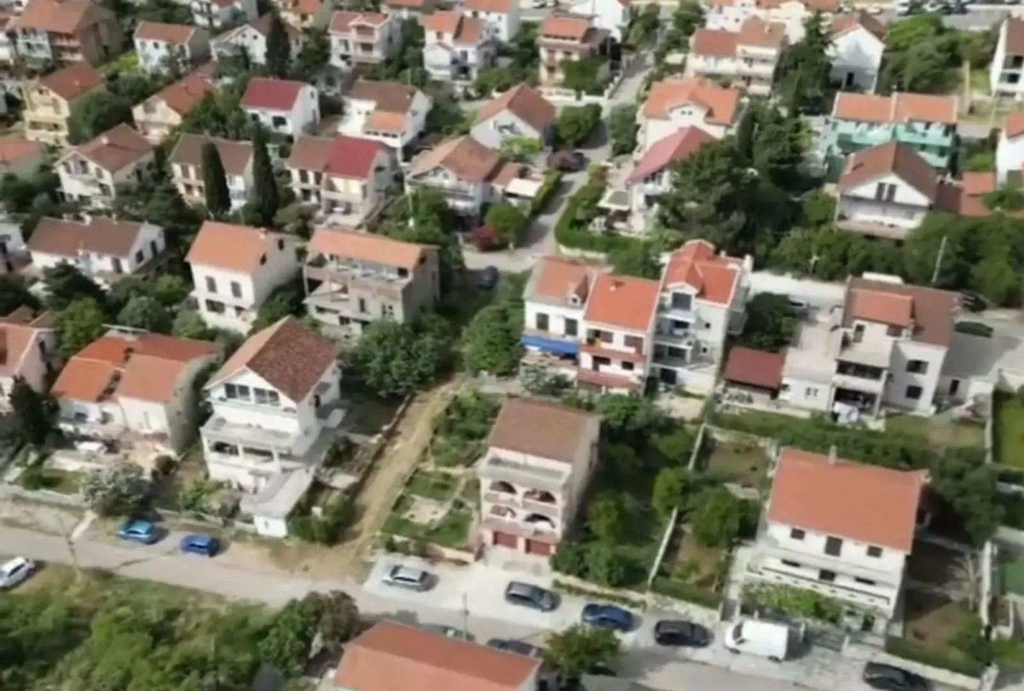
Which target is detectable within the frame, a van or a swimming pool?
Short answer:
van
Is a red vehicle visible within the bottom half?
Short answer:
No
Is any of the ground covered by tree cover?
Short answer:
Yes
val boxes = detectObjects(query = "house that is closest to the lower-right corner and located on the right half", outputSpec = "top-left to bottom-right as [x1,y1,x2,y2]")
[755,449,919,634]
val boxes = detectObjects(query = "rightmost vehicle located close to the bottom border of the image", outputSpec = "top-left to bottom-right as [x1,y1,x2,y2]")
[863,662,924,691]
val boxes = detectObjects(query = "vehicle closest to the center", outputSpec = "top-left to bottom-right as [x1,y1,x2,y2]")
[478,265,499,289]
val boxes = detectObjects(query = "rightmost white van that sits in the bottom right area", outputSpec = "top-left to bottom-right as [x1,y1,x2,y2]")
[722,617,792,658]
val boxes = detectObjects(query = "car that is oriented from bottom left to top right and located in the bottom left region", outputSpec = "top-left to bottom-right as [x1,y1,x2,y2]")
[0,555,43,591]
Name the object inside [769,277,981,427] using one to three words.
house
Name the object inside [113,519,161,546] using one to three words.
car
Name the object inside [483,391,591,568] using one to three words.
house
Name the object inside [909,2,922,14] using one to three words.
vehicle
